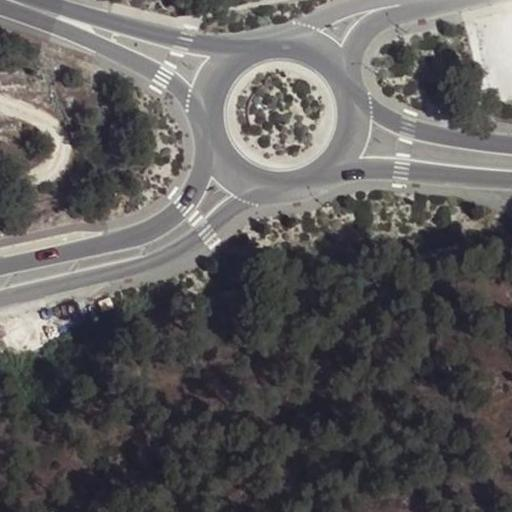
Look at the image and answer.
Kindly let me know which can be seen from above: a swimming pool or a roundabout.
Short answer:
roundabout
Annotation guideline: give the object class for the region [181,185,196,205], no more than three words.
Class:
car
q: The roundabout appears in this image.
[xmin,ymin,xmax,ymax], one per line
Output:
[194,28,366,200]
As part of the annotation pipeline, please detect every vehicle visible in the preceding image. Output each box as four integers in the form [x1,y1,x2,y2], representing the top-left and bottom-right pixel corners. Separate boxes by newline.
[36,248,59,260]
[342,169,364,180]
[181,185,196,205]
